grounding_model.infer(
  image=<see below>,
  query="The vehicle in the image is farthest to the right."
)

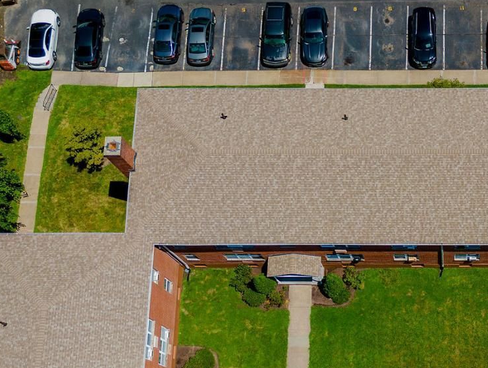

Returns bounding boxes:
[408,7,438,69]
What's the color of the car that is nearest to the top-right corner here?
black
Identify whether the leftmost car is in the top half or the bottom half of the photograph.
top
